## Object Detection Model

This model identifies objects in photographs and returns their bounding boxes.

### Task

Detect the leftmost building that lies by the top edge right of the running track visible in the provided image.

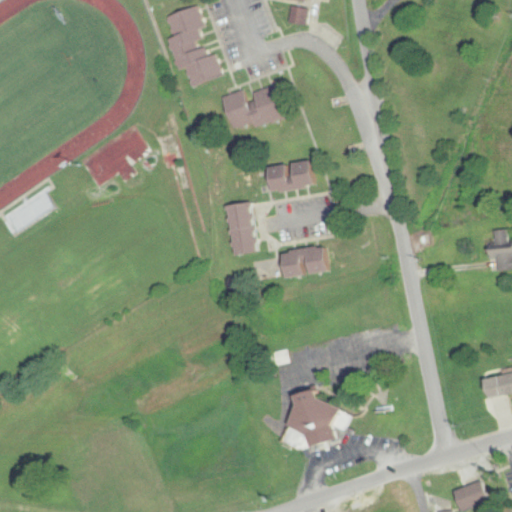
[168,6,228,88]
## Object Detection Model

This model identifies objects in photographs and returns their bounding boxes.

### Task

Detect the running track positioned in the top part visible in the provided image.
[0,0,146,210]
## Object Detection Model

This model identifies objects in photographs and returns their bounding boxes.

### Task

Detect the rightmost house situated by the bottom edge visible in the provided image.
[454,481,484,512]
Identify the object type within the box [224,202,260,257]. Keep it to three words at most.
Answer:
building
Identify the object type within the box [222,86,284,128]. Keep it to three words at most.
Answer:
building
